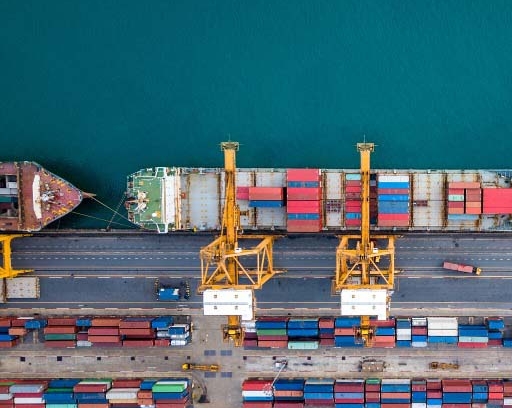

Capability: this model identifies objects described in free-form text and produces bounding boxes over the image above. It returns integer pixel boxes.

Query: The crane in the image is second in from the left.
[195,133,288,342]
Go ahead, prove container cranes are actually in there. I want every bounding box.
[330,133,409,342]
[0,237,32,281]
[195,133,288,342]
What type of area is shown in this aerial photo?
port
